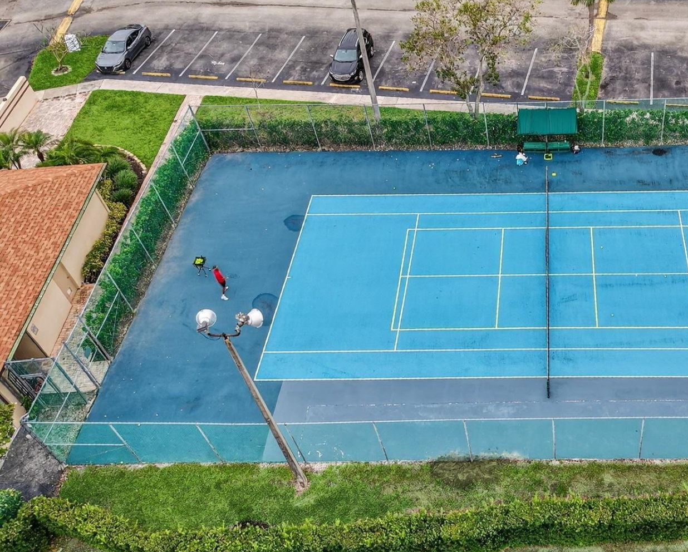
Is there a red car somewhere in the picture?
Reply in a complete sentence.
No, I find no red car anywhere in the image.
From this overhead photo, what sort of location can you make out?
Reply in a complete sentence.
The area seen from above is a sports ground.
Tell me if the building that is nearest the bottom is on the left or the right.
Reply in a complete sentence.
The building that is nearest the bottom sits on the left side.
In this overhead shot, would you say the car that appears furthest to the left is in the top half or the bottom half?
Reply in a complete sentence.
The top half of the photo is where the car that appears furthest to the left is.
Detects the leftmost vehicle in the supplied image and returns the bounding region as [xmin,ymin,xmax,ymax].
[91,22,151,73]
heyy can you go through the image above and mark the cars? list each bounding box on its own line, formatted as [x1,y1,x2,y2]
[91,22,151,73]
[326,26,374,86]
